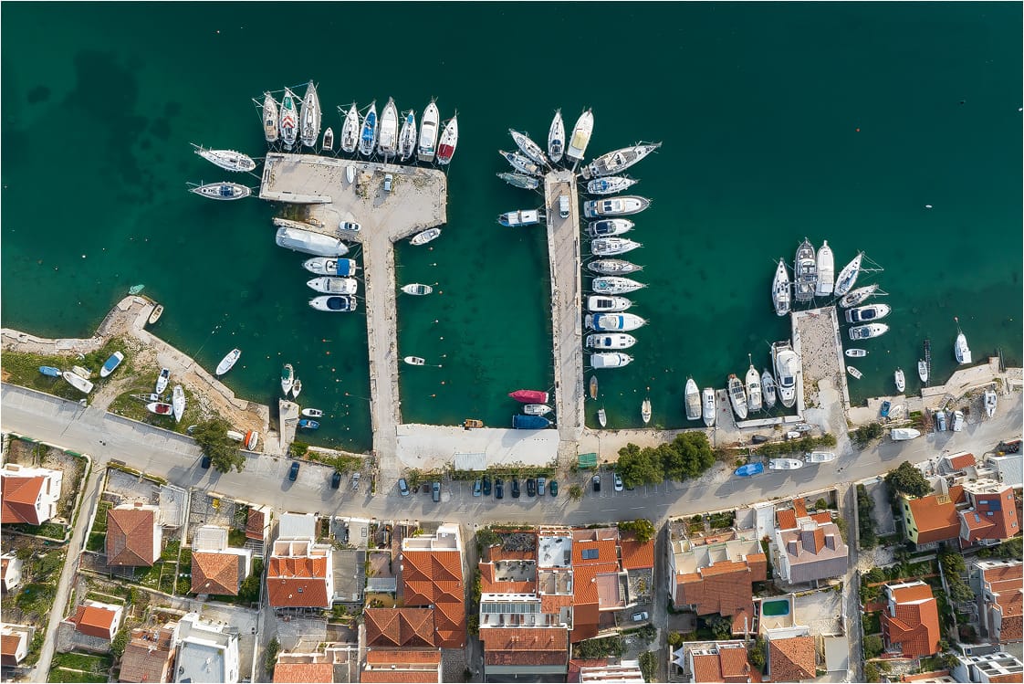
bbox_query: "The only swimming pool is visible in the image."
[759,592,792,632]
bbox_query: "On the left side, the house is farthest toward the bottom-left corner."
[0,620,35,664]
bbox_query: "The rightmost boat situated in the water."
[956,334,975,364]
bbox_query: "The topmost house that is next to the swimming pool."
[774,497,847,584]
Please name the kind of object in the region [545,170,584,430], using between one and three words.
pier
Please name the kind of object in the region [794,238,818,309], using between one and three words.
boat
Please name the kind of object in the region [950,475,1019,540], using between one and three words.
house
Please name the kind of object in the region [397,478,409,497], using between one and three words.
vehicle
